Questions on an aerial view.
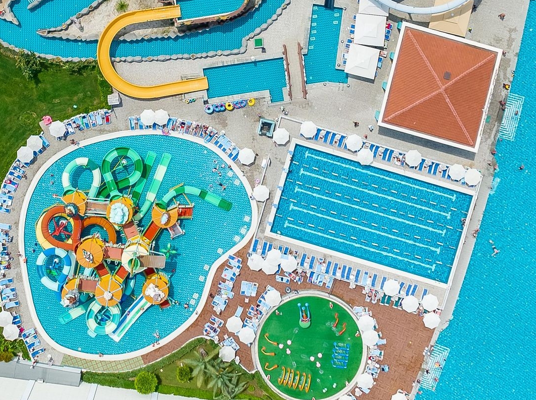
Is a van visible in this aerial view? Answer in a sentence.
No, the photo shows no van.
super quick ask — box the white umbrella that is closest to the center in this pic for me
[251,183,268,200]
